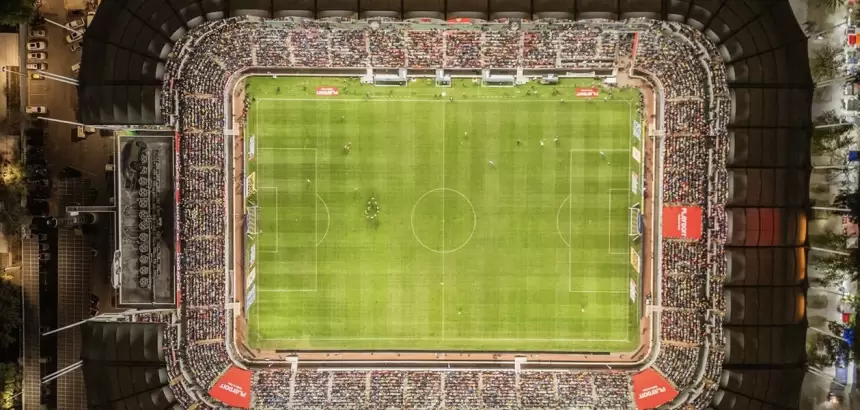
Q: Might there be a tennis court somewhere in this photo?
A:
No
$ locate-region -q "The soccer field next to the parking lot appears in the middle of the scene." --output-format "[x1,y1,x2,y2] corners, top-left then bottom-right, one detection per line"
[245,76,643,351]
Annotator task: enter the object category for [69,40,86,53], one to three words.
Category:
vehicle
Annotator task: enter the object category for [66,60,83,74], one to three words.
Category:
vehicle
